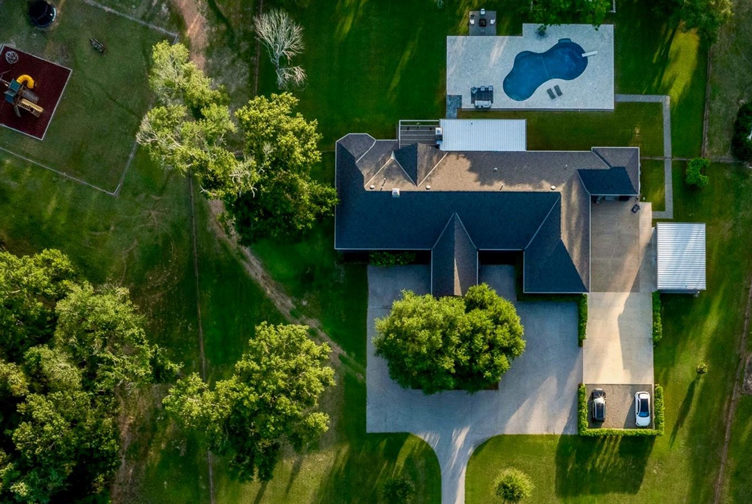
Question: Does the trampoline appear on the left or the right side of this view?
left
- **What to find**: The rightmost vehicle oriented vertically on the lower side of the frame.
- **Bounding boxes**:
[636,392,651,426]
